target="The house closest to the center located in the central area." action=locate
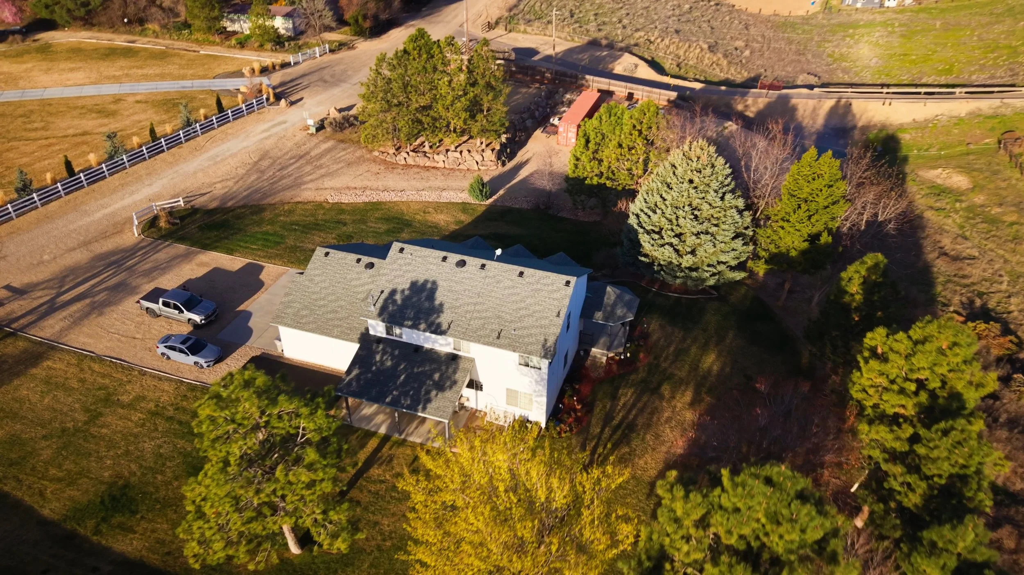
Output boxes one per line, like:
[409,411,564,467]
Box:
[270,234,644,445]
